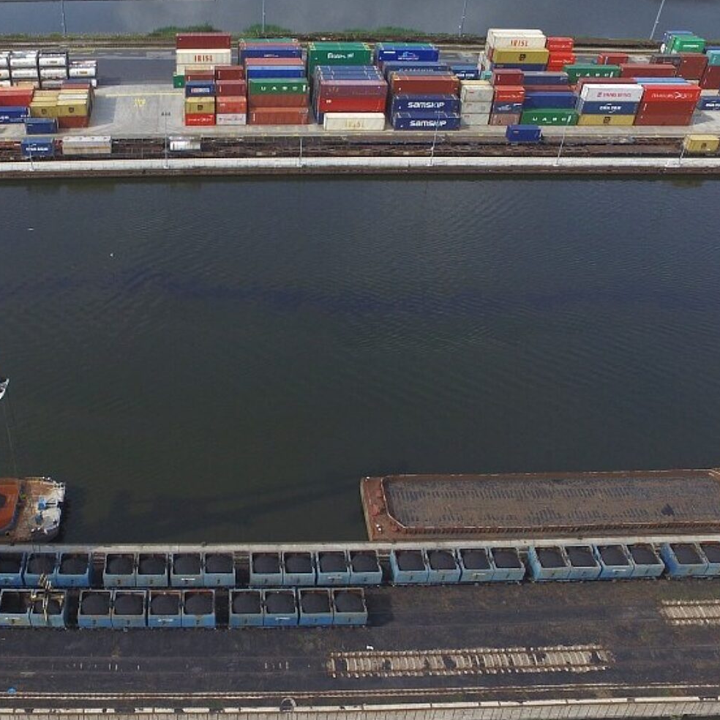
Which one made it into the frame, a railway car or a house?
railway car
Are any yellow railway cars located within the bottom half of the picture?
No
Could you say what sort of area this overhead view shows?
port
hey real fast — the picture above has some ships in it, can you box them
[359,469,720,539]
[0,472,67,543]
